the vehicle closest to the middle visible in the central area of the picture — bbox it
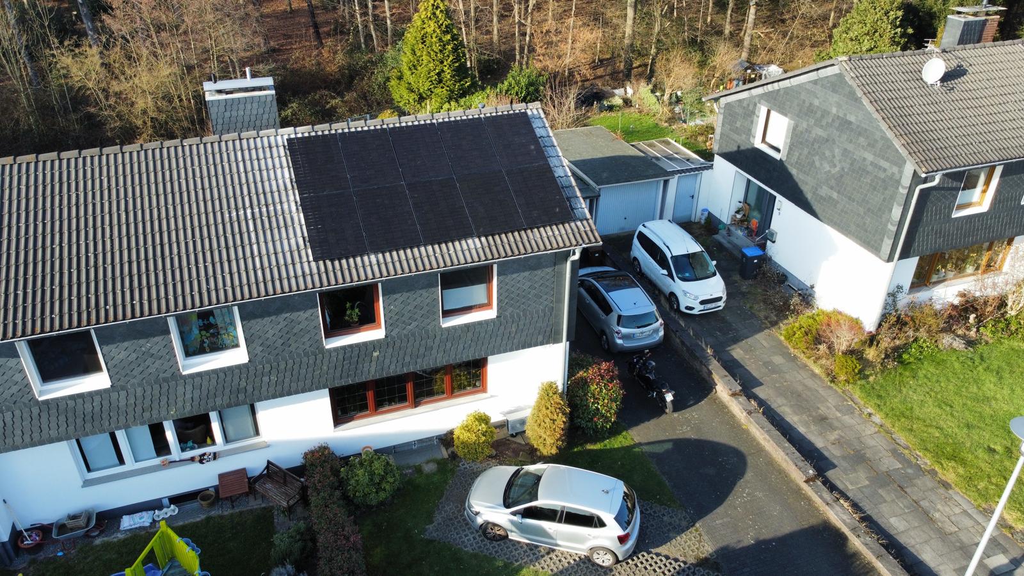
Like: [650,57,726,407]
[577,266,664,351]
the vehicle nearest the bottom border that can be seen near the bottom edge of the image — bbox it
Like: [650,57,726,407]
[465,457,644,567]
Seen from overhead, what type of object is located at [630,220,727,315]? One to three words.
van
